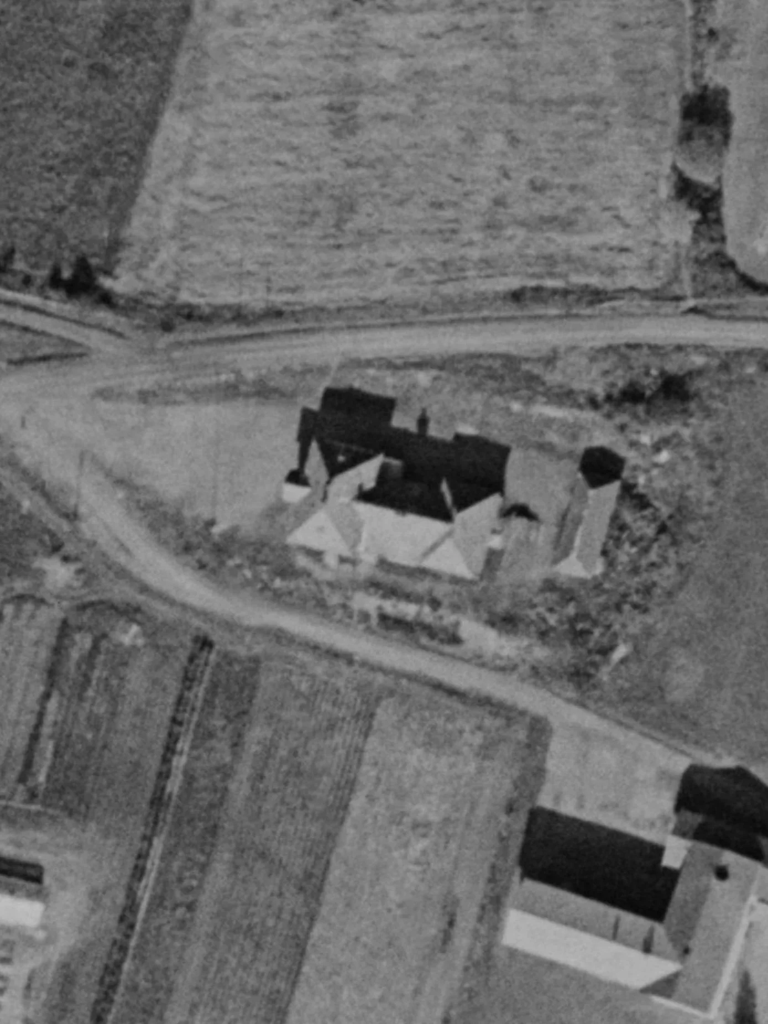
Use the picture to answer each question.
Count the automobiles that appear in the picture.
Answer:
zero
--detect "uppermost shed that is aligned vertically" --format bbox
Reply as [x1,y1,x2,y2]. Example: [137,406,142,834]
[553,470,623,578]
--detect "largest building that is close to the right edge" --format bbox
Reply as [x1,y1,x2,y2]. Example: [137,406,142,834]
[503,808,760,1019]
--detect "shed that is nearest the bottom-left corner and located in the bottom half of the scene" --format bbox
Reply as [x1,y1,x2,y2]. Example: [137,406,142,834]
[0,877,44,927]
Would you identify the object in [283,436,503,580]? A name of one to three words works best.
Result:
house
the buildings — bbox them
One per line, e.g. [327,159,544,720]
[0,877,44,927]
[283,436,503,580]
[553,470,623,578]
[503,808,760,1019]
